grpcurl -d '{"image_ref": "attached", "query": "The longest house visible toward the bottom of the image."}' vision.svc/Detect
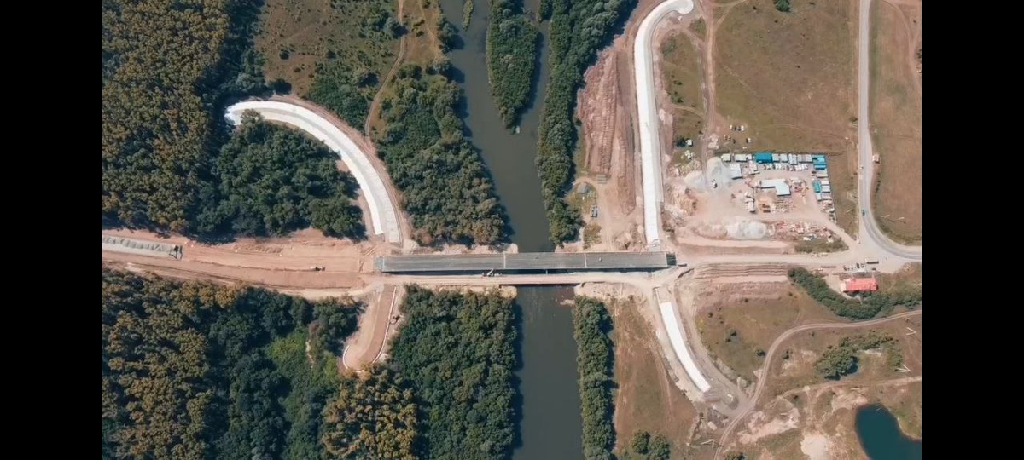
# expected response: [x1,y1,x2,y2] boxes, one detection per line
[841,278,881,292]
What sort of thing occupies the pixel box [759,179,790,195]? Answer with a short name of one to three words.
building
